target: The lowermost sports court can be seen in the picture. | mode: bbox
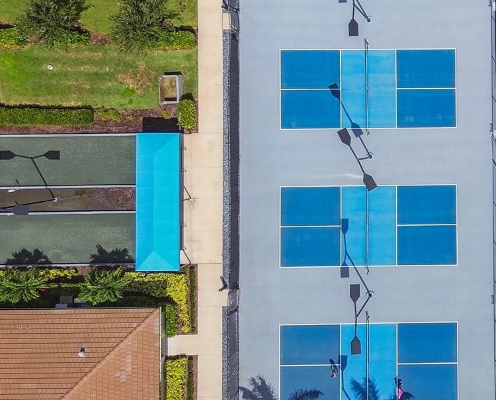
[279,321,459,400]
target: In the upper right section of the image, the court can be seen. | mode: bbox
[280,49,457,130]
